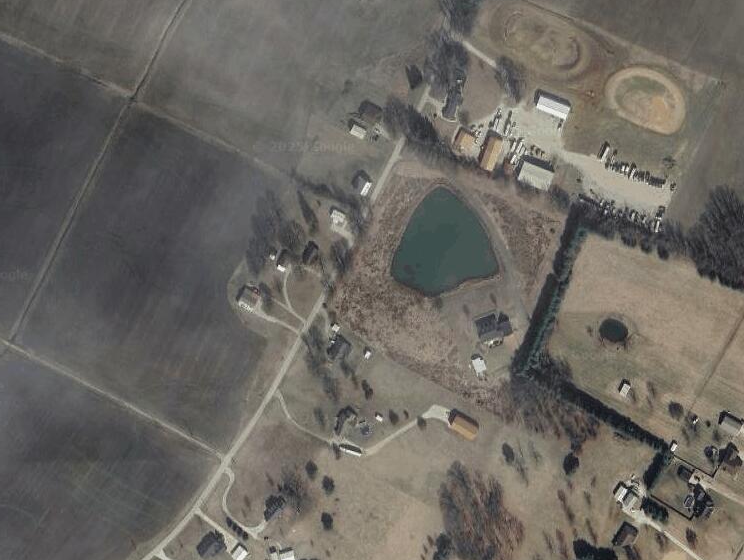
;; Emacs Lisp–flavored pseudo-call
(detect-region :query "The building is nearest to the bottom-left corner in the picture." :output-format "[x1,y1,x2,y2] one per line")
[196,529,226,558]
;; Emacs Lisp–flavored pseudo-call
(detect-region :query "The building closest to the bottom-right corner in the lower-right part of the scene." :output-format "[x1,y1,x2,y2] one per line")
[688,485,718,518]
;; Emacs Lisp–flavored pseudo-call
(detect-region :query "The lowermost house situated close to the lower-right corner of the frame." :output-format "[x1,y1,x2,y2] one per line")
[614,523,637,547]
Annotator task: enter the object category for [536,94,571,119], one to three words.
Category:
barn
